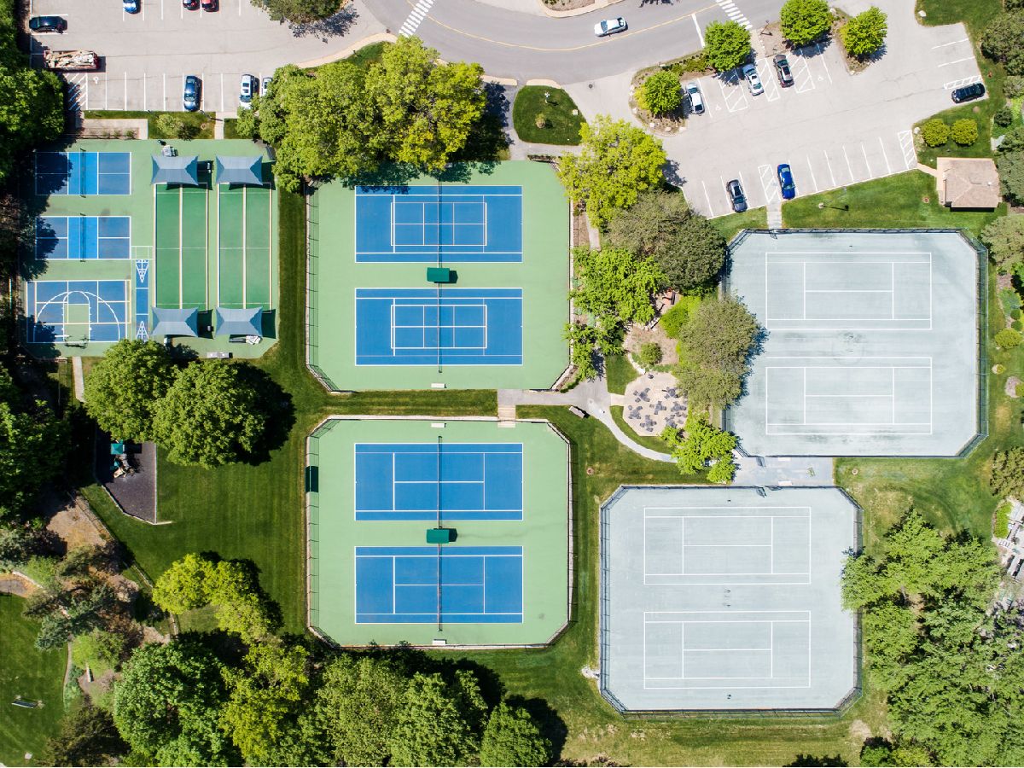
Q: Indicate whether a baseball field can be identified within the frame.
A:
No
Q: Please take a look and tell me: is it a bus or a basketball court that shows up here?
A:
basketball court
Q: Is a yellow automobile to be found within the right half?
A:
No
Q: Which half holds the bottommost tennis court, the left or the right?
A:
right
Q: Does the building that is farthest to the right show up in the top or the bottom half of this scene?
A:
top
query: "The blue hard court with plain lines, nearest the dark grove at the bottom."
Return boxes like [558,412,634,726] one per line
[355,546,523,624]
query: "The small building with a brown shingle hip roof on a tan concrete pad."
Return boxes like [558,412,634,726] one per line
[937,160,1000,209]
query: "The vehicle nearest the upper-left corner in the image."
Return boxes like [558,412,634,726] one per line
[27,13,65,31]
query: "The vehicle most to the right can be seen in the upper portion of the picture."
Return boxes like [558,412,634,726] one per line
[952,80,990,101]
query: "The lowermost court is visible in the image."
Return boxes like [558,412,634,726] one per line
[643,611,811,689]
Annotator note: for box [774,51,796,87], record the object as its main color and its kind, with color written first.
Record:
gray car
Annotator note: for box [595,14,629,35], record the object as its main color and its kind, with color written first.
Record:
white car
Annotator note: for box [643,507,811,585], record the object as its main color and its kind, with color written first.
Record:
white tennis court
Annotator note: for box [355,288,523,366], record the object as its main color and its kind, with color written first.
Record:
blue tennis court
